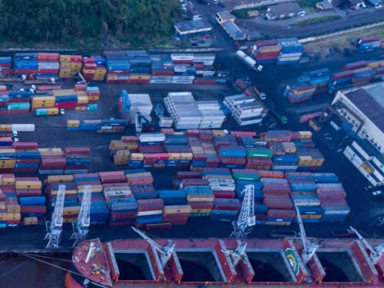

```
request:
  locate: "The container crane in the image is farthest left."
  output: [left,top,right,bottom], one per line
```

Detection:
[42,185,63,249]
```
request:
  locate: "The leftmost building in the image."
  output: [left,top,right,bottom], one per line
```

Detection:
[175,19,215,39]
